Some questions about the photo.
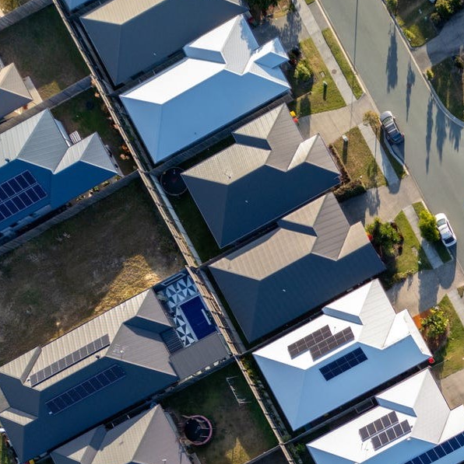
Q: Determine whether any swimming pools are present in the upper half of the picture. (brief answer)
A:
No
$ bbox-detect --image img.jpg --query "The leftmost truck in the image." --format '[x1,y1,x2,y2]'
[377,103,406,148]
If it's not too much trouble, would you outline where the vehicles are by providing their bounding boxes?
[430,209,458,248]
[377,103,406,148]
